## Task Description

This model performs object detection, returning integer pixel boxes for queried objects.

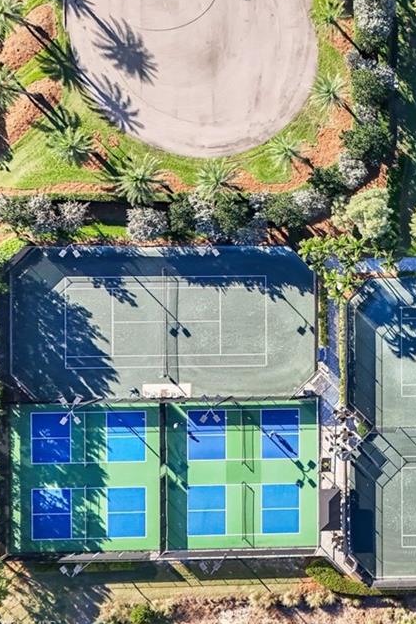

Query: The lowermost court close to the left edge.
[9,475,156,553]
